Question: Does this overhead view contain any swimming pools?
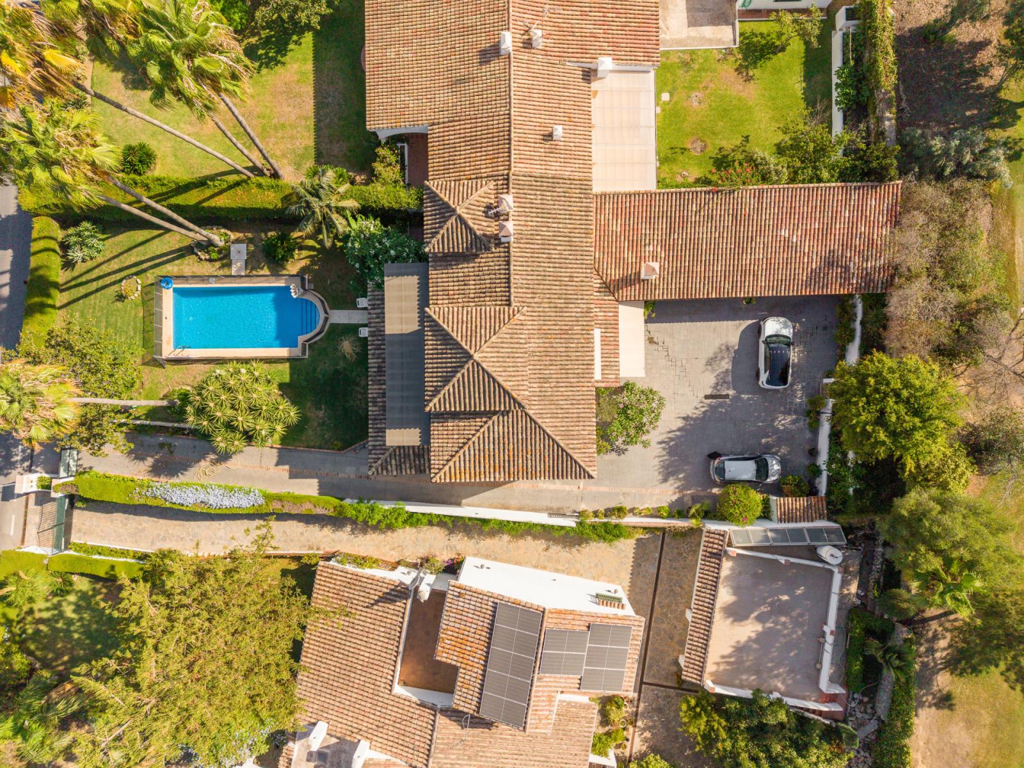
Yes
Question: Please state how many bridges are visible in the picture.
0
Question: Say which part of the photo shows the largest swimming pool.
left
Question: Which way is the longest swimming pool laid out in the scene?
from side to side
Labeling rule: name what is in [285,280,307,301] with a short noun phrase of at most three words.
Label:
fountain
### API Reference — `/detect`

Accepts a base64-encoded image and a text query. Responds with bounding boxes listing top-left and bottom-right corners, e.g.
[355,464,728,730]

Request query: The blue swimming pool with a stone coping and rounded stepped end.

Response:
[162,275,330,359]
